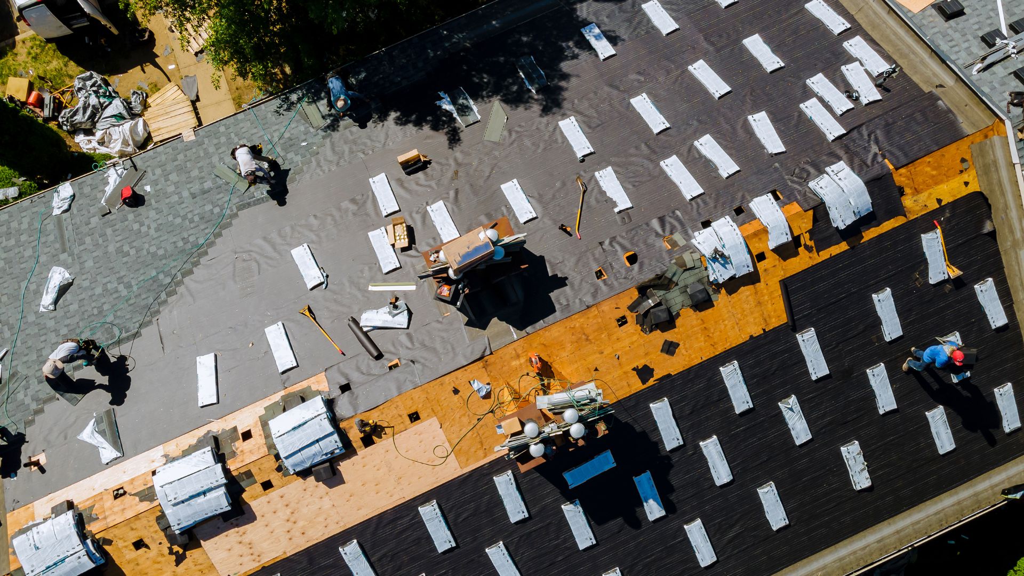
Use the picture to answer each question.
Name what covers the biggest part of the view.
buildings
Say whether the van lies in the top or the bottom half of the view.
top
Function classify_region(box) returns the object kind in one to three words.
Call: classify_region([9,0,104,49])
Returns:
van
